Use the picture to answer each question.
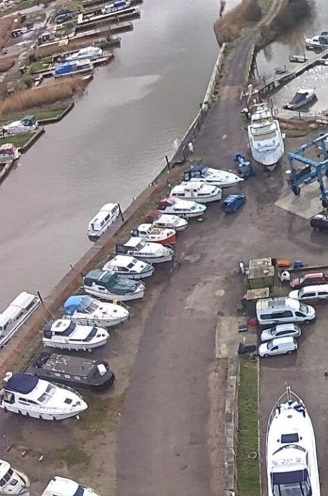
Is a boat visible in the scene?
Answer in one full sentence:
Yes, the image includes a boat.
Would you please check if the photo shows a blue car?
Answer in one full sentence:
Yes, a blue car appears in the view.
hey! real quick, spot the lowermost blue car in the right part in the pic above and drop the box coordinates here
[222,193,249,213]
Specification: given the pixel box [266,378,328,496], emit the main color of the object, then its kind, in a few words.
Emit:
white boat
